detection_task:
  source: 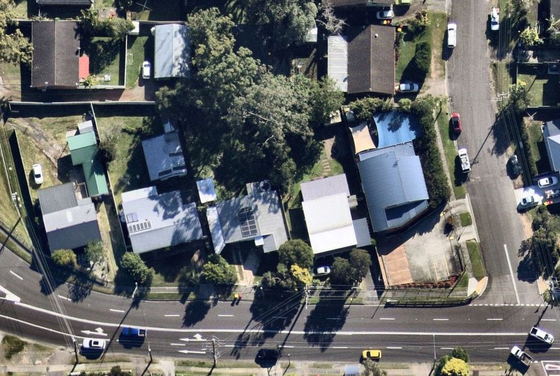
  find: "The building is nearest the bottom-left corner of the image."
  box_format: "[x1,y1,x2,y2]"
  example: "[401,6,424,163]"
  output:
[37,182,101,252]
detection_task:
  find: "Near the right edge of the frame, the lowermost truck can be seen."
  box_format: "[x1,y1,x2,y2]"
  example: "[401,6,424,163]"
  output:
[510,346,535,367]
